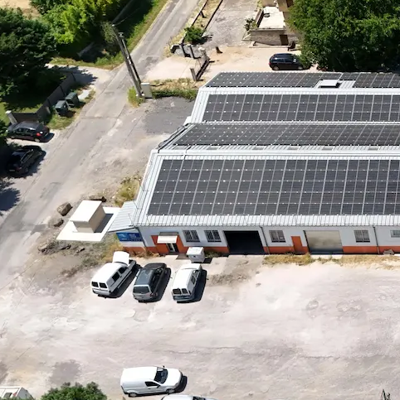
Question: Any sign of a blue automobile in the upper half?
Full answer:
No, no blue automobile appears in the upper half.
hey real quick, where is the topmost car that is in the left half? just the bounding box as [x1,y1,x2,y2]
[10,118,52,139]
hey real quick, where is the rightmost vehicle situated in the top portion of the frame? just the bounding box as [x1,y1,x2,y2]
[269,51,309,69]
